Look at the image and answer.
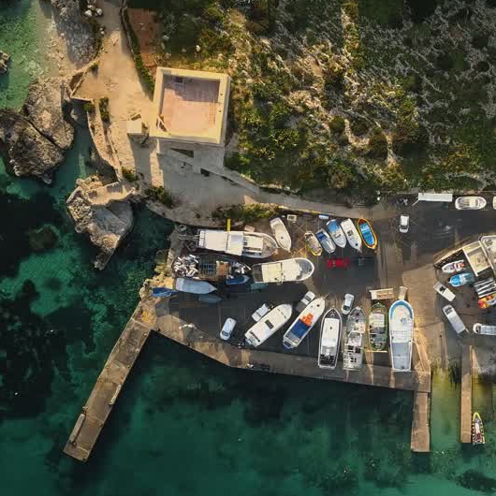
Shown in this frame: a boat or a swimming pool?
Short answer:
boat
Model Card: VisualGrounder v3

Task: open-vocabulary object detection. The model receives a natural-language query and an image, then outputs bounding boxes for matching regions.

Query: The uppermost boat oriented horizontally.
[455,195,485,208]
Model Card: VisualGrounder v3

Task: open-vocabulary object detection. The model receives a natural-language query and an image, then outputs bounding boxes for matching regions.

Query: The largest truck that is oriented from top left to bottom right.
[443,305,466,333]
